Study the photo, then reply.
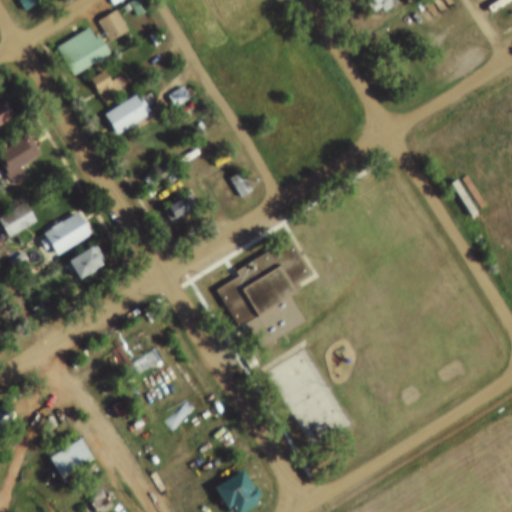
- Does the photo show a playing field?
Yes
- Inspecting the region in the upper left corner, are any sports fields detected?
No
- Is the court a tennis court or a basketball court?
basketball court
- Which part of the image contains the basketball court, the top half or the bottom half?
bottom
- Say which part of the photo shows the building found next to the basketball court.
center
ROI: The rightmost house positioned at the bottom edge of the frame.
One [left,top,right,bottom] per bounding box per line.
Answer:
[219,470,261,512]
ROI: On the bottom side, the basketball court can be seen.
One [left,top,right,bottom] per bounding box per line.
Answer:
[270,351,352,442]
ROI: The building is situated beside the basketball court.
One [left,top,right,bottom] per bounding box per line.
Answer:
[216,242,310,345]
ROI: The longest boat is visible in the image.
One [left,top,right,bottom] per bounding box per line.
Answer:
[118,332,132,358]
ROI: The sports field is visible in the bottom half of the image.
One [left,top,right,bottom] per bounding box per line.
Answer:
[290,163,502,458]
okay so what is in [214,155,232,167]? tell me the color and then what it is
yellow vehicle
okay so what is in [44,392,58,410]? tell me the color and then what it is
red vehicle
